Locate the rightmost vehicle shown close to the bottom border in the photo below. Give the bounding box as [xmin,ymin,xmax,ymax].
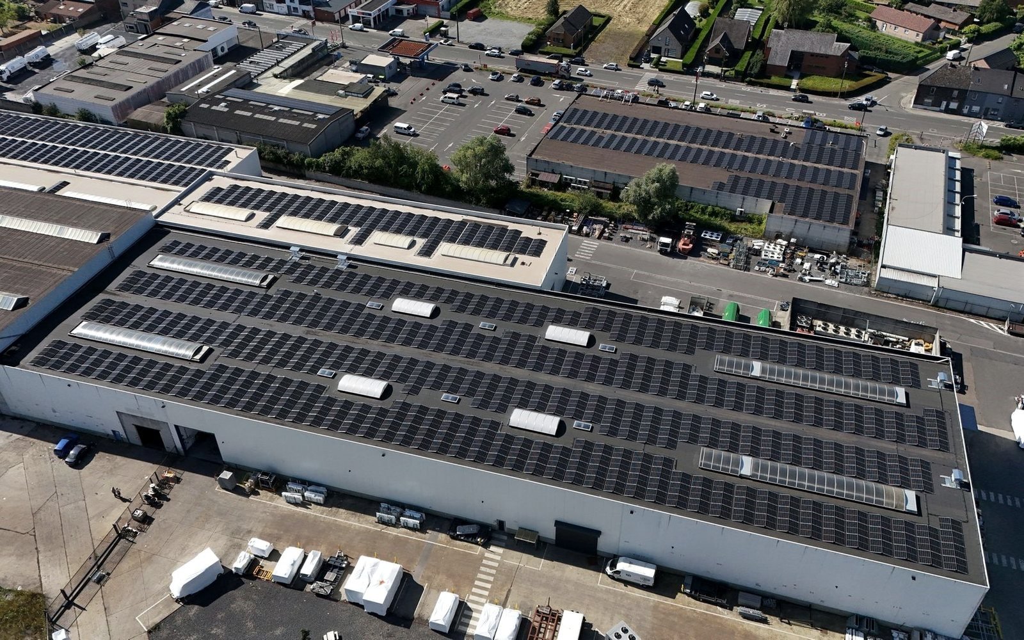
[681,573,733,608]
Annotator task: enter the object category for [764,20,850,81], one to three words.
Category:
house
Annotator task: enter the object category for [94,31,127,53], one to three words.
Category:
truck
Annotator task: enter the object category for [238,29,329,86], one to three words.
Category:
building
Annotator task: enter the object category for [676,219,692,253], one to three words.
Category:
work vehicle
